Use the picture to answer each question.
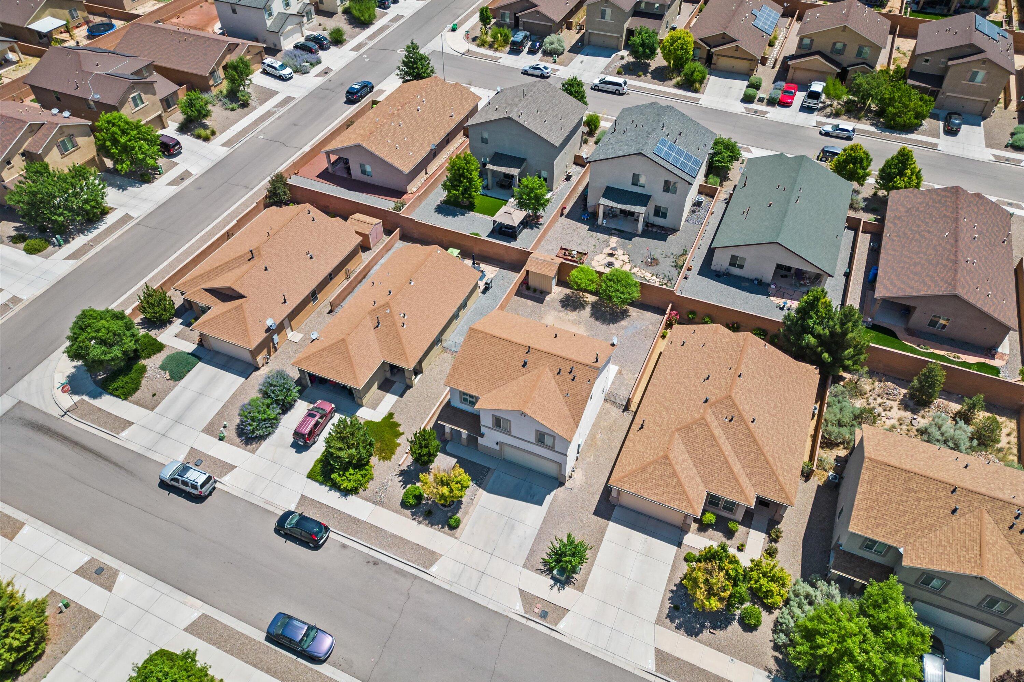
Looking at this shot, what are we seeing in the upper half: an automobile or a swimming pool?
automobile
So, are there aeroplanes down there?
No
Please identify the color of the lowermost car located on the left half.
blue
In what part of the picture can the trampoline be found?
top left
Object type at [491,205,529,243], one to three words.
gazebo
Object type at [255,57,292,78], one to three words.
car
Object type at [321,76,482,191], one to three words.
house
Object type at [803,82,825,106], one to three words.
truck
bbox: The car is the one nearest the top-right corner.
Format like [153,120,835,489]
[944,110,965,131]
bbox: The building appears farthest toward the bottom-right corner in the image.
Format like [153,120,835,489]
[827,425,1024,647]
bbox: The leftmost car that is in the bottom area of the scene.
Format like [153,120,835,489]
[156,460,216,499]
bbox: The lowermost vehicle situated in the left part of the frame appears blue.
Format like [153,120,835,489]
[261,611,336,666]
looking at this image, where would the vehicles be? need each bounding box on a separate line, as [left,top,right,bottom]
[274,510,333,549]
[344,80,374,102]
[156,460,216,499]
[780,83,799,104]
[510,31,534,51]
[261,611,336,666]
[589,74,629,94]
[517,62,552,78]
[296,31,326,48]
[526,39,547,55]
[255,57,292,78]
[289,401,336,445]
[815,144,841,161]
[363,0,392,9]
[156,132,180,153]
[803,82,825,106]
[944,110,965,131]
[820,122,858,140]
[912,629,955,682]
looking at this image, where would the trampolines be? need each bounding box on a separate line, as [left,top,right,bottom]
[83,13,115,35]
